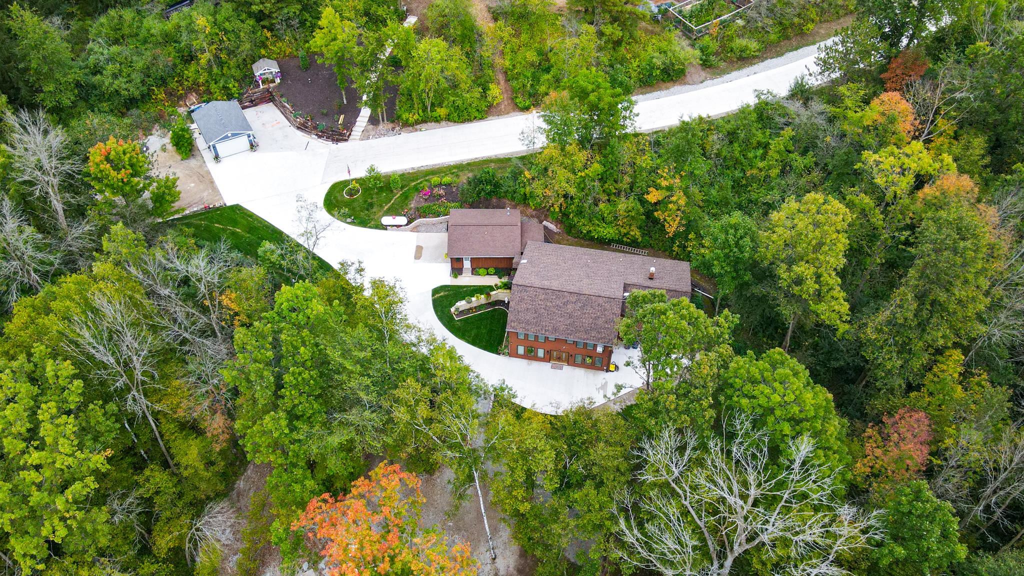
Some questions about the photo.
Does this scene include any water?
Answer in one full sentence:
No, no water is visible.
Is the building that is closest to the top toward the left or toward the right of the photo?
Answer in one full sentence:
The building that is closest to the top appears in the left half of the scene.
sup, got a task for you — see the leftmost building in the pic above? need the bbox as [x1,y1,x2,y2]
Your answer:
[191,101,255,159]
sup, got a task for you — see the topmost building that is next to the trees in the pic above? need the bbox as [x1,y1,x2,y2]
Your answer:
[250,55,280,87]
